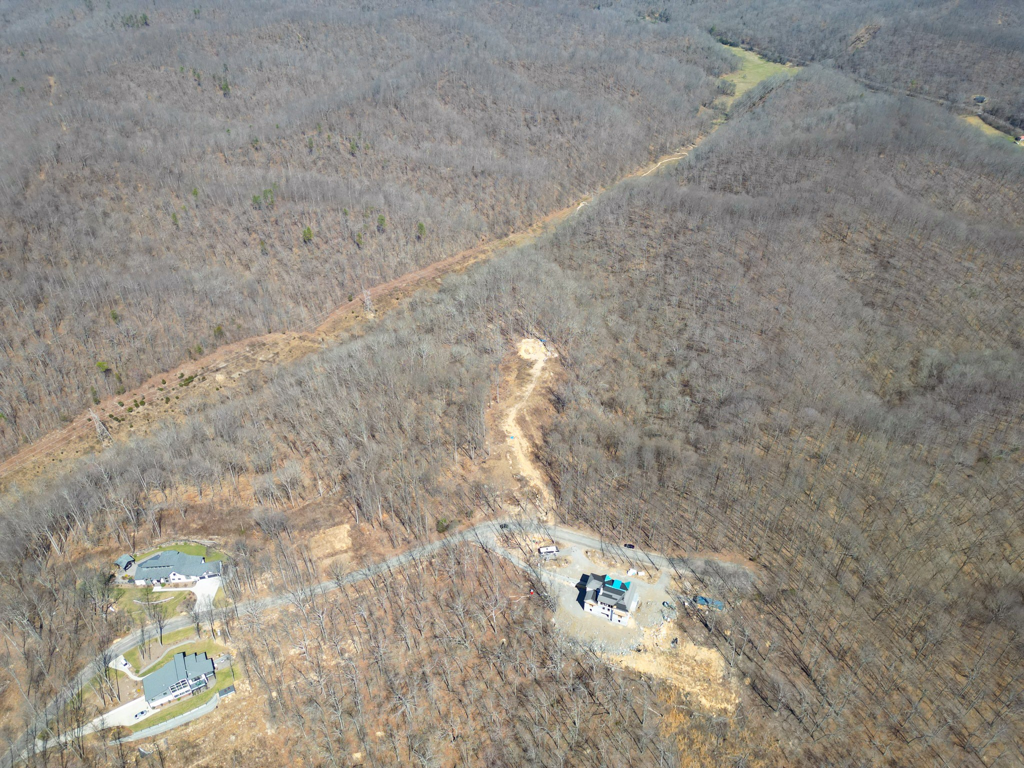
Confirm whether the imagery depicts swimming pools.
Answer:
No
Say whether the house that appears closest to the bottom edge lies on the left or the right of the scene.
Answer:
left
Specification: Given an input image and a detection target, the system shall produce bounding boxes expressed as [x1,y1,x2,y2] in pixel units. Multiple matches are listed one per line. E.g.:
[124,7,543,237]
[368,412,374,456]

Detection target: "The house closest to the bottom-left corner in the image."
[144,654,218,714]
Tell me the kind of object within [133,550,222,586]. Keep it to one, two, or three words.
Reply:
house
